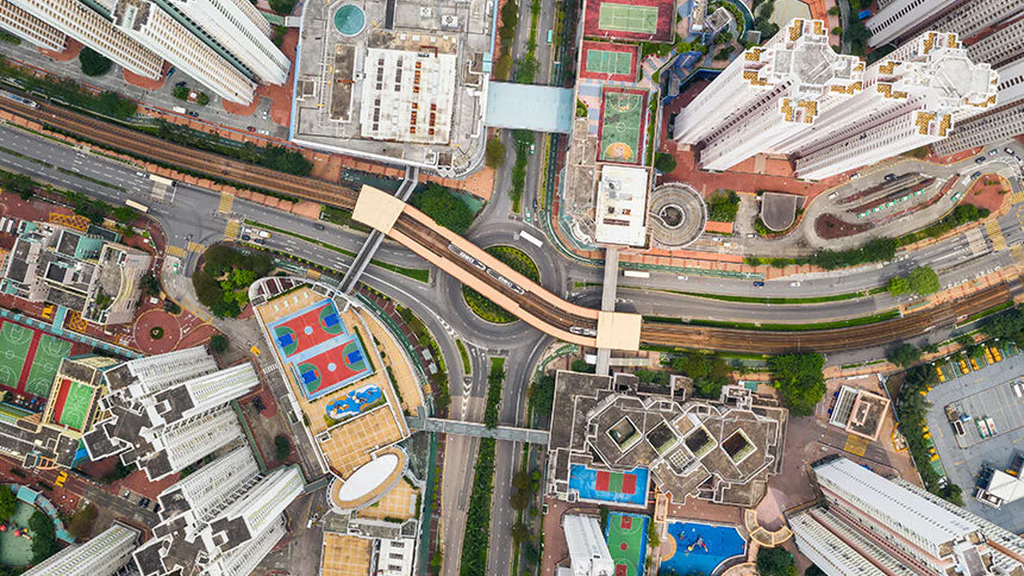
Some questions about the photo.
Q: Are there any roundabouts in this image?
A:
Yes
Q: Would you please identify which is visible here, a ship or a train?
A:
train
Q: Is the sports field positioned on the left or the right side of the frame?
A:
left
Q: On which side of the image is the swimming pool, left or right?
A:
right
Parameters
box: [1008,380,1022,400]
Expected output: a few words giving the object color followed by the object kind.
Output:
white vehicle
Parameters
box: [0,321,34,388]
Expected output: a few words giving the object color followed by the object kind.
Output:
green basketball court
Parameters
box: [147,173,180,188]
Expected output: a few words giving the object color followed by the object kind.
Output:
white vehicle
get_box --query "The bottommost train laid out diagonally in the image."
[486,268,526,295]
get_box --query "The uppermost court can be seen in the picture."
[584,0,677,42]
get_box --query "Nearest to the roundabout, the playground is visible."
[326,384,382,419]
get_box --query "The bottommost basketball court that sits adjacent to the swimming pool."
[607,512,650,576]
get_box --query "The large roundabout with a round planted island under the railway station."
[432,218,571,353]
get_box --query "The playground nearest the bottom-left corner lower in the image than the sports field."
[0,499,36,568]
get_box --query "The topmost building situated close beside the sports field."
[0,221,163,324]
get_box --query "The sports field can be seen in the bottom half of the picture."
[0,318,75,401]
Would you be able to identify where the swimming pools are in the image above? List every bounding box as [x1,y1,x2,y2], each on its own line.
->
[654,520,750,576]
